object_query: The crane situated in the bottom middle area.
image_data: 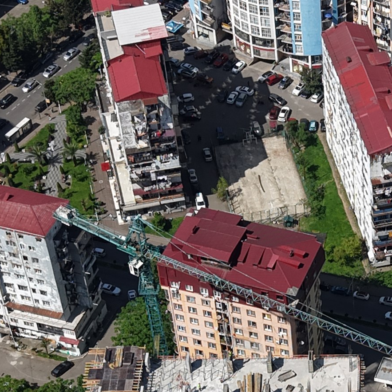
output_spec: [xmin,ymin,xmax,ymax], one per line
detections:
[49,208,392,364]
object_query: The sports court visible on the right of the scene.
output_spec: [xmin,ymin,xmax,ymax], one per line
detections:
[215,135,305,221]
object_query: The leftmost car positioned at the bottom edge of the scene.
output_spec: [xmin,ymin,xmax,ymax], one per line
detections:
[50,361,76,380]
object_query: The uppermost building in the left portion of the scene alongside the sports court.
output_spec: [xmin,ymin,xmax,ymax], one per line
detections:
[93,0,200,239]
